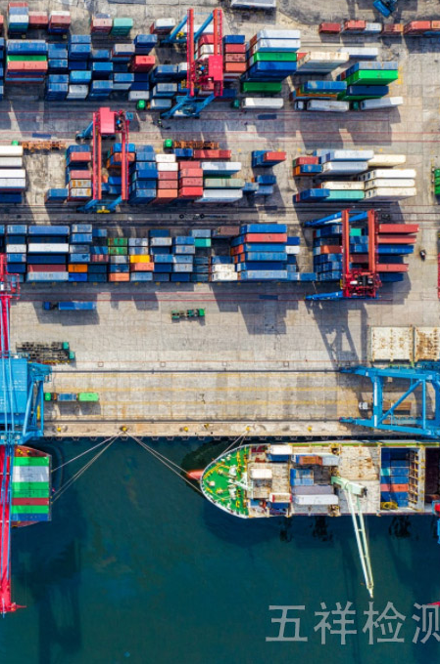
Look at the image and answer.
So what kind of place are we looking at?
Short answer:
port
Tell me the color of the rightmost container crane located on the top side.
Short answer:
red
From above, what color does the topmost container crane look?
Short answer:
red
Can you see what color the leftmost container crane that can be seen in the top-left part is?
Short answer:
red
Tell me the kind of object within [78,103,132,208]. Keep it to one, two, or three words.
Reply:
container crane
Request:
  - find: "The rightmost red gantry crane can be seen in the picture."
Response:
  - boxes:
[304,209,379,299]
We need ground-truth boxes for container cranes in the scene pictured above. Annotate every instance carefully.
[78,103,132,208]
[304,209,379,299]
[0,254,48,622]
[163,7,227,115]
[332,350,440,447]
